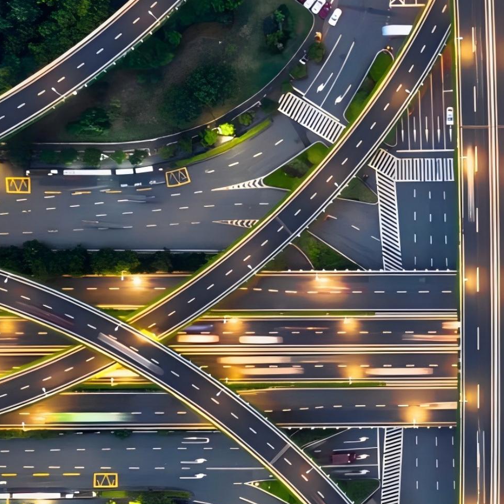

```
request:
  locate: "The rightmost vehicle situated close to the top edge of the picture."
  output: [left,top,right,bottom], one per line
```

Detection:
[380,22,410,37]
